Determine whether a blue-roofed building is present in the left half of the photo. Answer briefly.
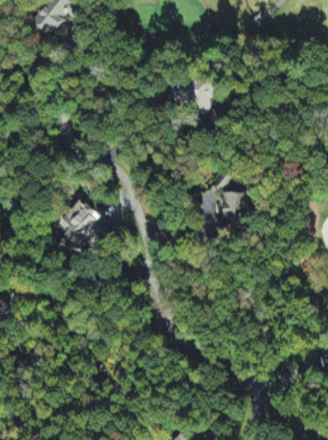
No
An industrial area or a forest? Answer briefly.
forest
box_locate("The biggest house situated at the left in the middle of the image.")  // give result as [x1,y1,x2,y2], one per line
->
[56,199,102,240]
